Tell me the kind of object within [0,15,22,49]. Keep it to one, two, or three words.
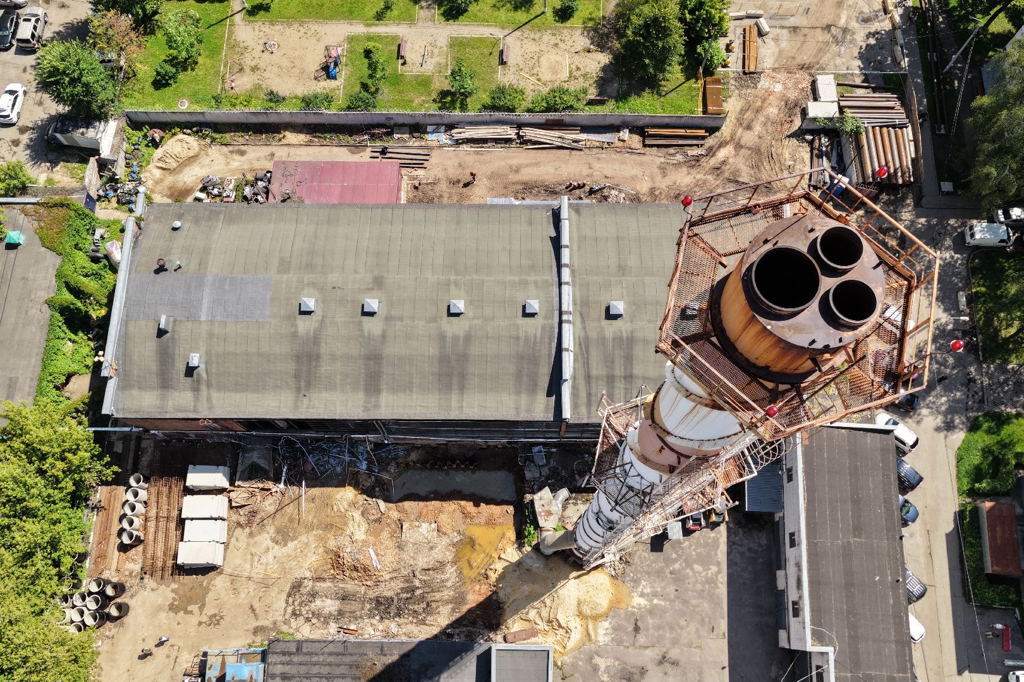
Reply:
car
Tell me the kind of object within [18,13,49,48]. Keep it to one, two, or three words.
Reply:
car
